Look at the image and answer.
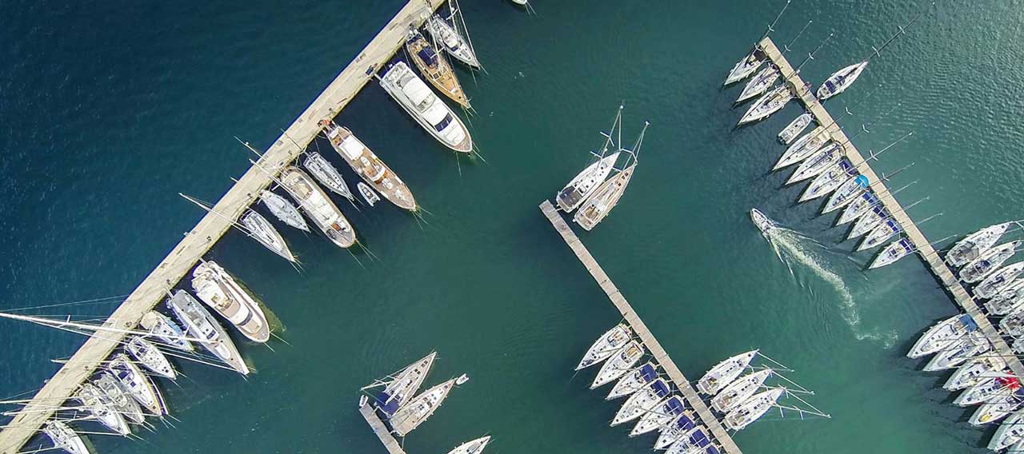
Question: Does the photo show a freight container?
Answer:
No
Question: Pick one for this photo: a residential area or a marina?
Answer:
marina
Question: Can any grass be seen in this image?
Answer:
No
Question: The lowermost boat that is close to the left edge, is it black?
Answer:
No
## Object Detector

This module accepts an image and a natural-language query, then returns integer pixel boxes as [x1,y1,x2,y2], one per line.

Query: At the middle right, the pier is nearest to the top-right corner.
[761,37,1024,385]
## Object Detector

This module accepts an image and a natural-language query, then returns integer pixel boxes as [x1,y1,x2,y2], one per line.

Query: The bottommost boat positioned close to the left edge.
[2,413,93,454]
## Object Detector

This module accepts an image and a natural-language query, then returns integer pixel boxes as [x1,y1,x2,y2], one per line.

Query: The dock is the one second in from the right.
[539,199,742,454]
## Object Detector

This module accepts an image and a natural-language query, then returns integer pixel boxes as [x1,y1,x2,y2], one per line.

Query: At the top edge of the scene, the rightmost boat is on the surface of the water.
[805,0,933,109]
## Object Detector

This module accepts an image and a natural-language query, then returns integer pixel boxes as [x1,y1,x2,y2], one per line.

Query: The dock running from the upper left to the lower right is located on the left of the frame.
[359,404,405,454]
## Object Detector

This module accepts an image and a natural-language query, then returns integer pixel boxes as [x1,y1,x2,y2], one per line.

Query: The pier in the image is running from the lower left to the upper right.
[0,0,447,454]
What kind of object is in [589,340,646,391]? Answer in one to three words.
boat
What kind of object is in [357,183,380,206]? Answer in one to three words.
boat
